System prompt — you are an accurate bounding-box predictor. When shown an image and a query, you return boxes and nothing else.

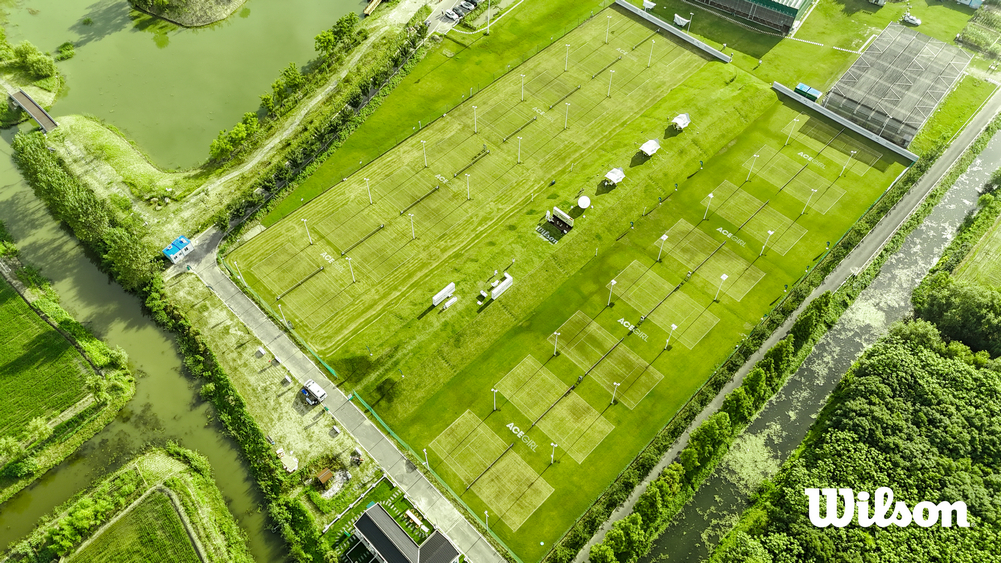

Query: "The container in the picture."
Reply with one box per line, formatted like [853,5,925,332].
[791,79,825,105]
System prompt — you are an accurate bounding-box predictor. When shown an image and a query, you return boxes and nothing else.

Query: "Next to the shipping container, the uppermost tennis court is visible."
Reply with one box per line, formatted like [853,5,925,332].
[782,111,883,176]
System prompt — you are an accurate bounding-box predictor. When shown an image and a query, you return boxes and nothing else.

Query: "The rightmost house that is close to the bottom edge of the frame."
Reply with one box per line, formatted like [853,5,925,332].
[354,502,460,563]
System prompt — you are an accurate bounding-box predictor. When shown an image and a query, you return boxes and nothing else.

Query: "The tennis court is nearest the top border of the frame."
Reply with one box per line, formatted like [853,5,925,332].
[605,15,689,64]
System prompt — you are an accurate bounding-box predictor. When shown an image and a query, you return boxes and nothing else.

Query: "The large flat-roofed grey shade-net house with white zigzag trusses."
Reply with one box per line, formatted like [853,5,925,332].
[820,21,973,147]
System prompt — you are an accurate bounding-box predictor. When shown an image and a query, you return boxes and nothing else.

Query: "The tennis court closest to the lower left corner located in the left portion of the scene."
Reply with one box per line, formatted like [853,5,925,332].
[251,241,351,328]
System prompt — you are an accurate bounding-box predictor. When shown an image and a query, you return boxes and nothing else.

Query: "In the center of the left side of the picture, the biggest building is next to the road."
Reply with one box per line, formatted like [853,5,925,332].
[162,235,196,264]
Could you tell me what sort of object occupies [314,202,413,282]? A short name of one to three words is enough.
tennis court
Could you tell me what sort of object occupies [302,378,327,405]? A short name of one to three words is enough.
vehicle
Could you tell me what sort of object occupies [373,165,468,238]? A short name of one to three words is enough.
tennis court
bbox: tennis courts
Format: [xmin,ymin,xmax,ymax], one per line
[494,355,616,464]
[546,310,665,410]
[426,131,519,198]
[373,165,468,238]
[476,99,567,161]
[314,202,413,282]
[782,111,883,176]
[742,145,847,215]
[701,180,807,256]
[251,241,351,328]
[523,69,610,126]
[655,219,765,301]
[605,15,689,64]
[428,410,554,531]
[606,260,720,350]
[564,41,651,95]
